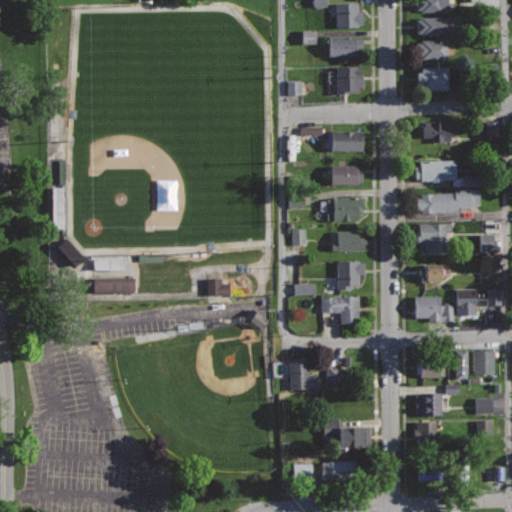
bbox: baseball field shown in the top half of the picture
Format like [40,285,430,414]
[72,13,265,248]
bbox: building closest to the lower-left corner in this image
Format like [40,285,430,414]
[94,279,135,294]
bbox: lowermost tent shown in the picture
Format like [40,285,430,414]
[157,180,179,212]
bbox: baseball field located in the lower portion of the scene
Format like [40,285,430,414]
[116,328,271,472]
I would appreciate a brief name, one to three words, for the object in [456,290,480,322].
house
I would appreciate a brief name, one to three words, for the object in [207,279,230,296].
building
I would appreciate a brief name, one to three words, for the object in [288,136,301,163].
building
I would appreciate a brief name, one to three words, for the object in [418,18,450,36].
house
